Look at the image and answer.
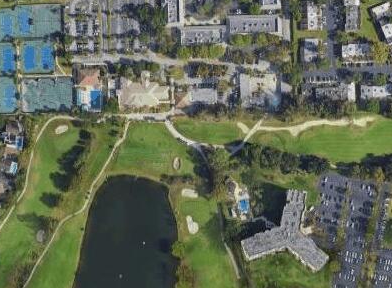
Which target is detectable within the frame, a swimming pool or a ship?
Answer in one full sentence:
There is a swimming pool in the scene.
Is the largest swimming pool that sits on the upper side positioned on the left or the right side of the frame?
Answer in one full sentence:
The largest swimming pool that sits on the upper side is on the left side of the image.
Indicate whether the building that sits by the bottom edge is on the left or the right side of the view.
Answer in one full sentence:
The building that sits by the bottom edge is on the right side of the image.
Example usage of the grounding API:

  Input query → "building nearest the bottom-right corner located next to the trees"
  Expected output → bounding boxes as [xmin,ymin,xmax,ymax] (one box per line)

[240,188,329,274]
